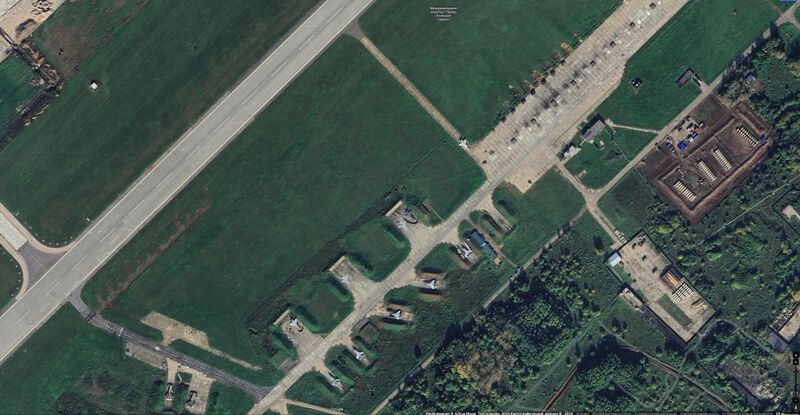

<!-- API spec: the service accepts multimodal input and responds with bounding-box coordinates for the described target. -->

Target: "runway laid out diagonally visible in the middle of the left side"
[0,0,373,360]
